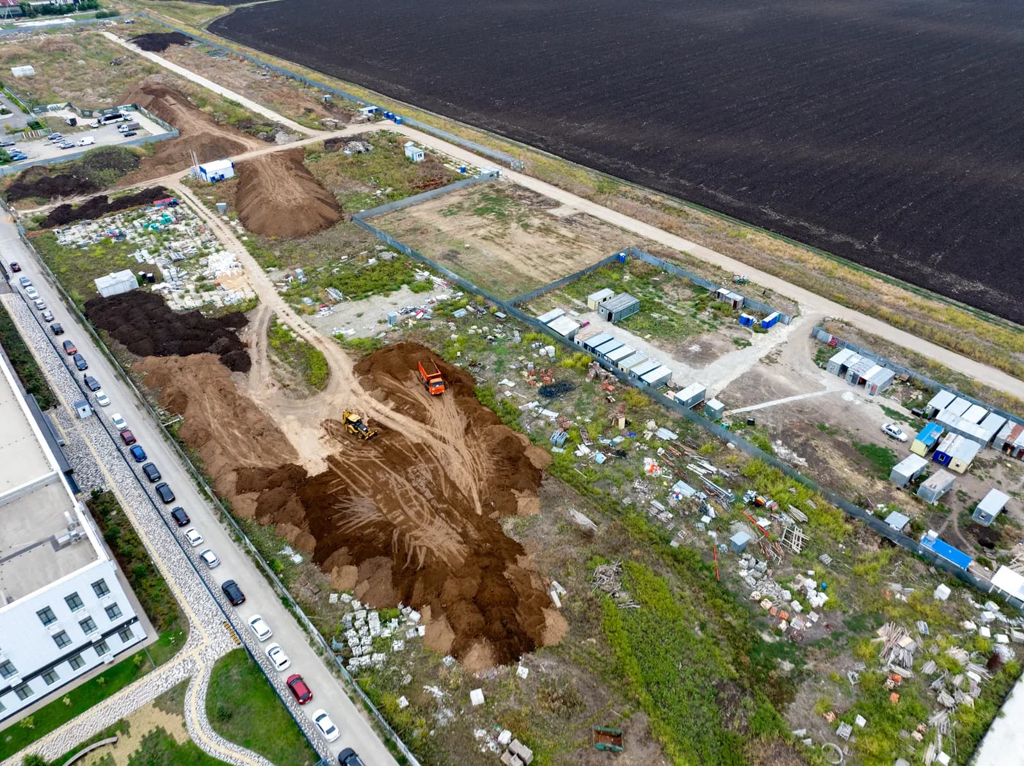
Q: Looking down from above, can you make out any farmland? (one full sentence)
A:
Yes, there's farmland in this view.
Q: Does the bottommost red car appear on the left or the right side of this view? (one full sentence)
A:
The bottommost red car sits on the left side.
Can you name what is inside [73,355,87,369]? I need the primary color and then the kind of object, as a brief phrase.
blue car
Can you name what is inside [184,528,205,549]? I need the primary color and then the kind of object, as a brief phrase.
white car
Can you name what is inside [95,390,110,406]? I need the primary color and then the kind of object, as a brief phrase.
white car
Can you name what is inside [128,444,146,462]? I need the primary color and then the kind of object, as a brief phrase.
blue car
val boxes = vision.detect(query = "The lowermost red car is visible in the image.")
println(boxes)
[286,675,312,705]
